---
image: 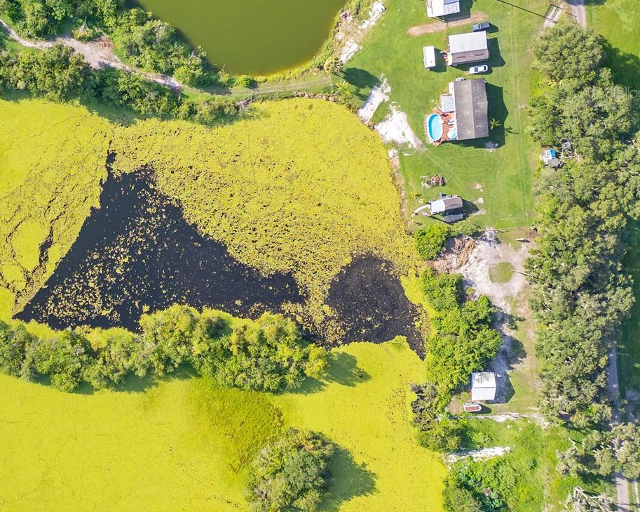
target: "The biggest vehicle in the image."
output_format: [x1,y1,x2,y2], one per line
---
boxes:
[421,45,435,71]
